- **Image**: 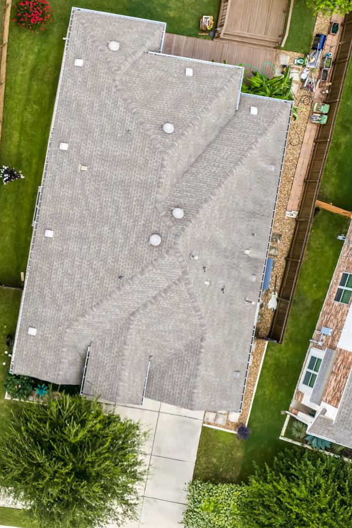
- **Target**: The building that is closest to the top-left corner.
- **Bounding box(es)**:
[8,4,294,411]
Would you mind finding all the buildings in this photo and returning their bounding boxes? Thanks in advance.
[8,4,294,411]
[288,217,352,451]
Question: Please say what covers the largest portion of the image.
buildings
